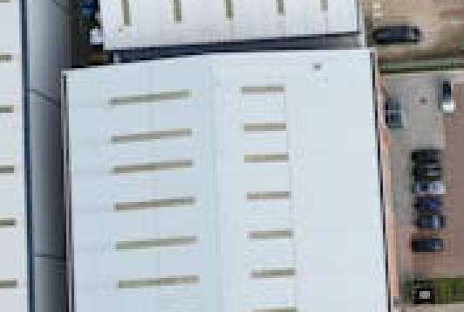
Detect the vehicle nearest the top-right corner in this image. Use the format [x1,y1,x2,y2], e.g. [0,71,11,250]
[375,24,417,44]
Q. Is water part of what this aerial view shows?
No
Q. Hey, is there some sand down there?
No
